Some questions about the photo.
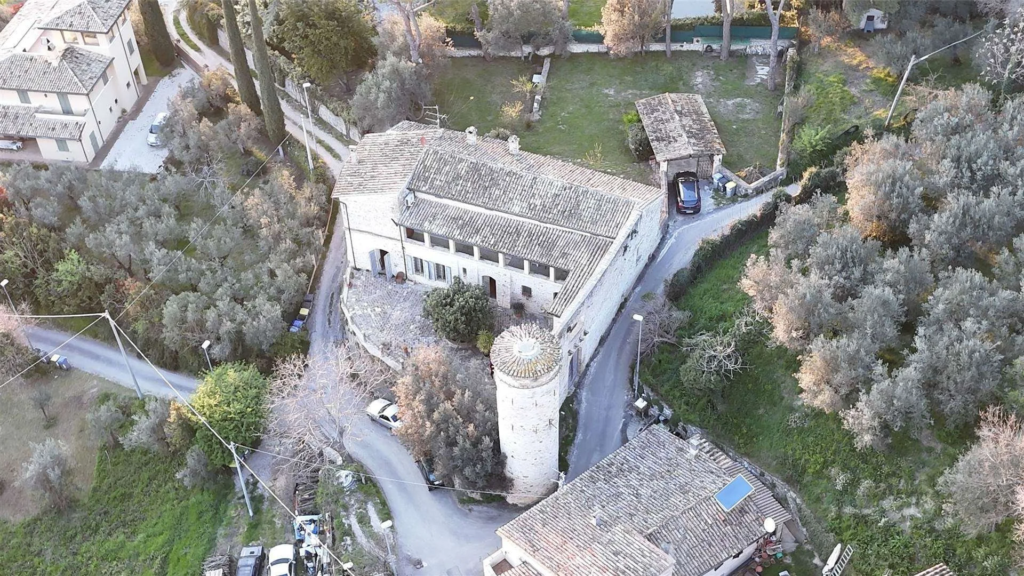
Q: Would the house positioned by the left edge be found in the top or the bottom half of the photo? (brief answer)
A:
top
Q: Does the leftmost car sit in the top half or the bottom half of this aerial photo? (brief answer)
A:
top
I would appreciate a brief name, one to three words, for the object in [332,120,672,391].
house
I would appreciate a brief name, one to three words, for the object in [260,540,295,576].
car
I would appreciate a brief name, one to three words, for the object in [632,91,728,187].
building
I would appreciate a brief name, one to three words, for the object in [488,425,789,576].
house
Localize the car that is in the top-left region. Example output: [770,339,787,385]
[142,110,171,144]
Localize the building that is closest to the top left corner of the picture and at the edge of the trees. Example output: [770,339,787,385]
[0,0,142,161]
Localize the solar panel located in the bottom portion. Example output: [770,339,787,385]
[714,476,754,517]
